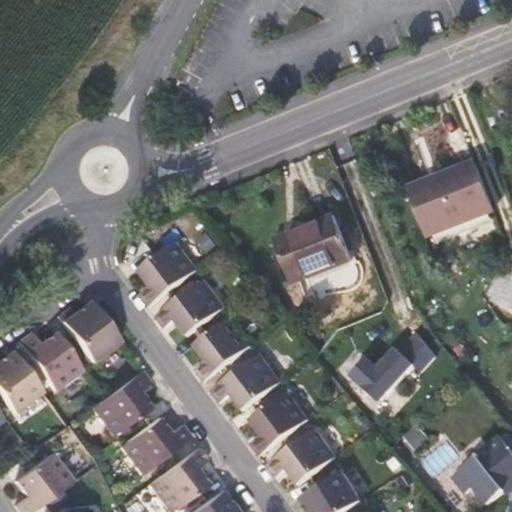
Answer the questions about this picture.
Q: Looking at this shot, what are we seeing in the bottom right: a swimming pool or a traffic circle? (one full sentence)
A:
Looking in the bottom right, you will find a swimming pool.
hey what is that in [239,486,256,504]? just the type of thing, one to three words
vehicle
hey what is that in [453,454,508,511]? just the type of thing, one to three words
building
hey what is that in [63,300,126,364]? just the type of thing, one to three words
house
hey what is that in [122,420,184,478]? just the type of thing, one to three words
house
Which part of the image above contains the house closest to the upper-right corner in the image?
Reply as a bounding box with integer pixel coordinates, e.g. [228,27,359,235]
[404,160,494,241]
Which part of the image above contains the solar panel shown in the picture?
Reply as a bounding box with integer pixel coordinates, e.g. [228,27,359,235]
[299,250,330,275]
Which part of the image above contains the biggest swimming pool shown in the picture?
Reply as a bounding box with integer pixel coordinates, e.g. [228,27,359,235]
[419,436,463,482]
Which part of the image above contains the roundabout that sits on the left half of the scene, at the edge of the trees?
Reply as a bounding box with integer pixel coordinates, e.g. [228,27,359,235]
[63,131,145,209]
